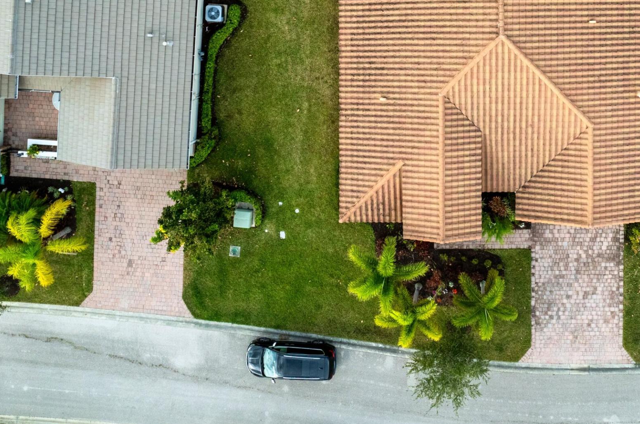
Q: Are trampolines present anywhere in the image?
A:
No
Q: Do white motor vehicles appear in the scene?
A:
No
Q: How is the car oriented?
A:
from left to right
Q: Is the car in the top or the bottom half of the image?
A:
bottom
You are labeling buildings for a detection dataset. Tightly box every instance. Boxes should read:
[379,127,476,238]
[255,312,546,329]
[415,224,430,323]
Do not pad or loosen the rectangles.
[0,0,206,185]
[336,0,640,245]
